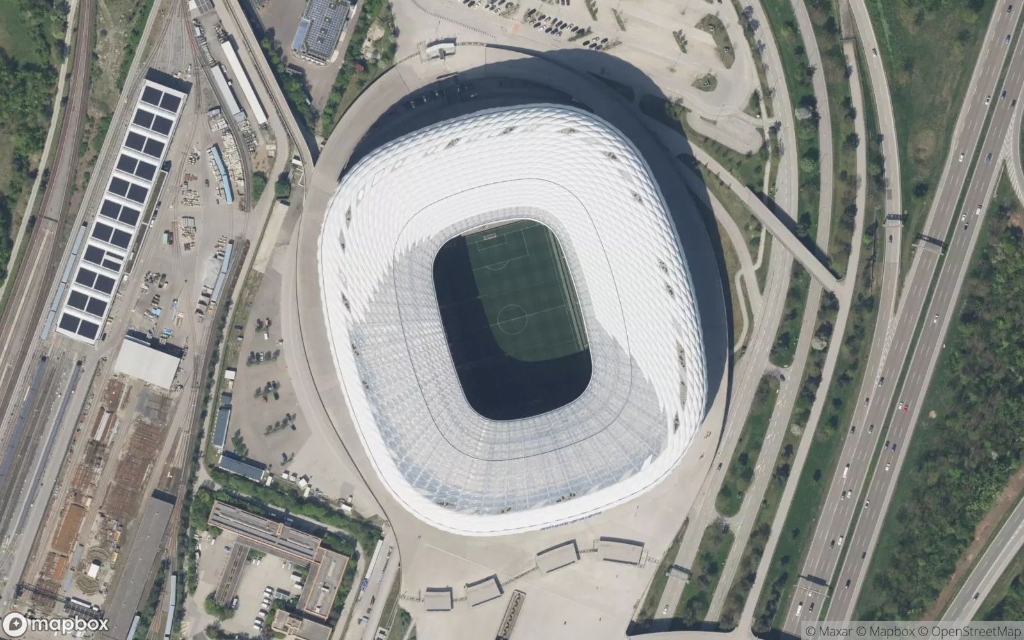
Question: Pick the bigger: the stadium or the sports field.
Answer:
the stadium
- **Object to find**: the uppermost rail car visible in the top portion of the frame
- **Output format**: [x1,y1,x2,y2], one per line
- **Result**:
[213,147,226,175]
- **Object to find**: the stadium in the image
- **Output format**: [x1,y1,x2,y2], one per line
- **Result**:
[316,102,709,538]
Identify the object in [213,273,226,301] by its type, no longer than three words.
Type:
rail car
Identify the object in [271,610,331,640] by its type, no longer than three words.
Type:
building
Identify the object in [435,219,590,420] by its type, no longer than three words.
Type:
sports field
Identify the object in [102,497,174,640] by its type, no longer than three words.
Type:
shed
